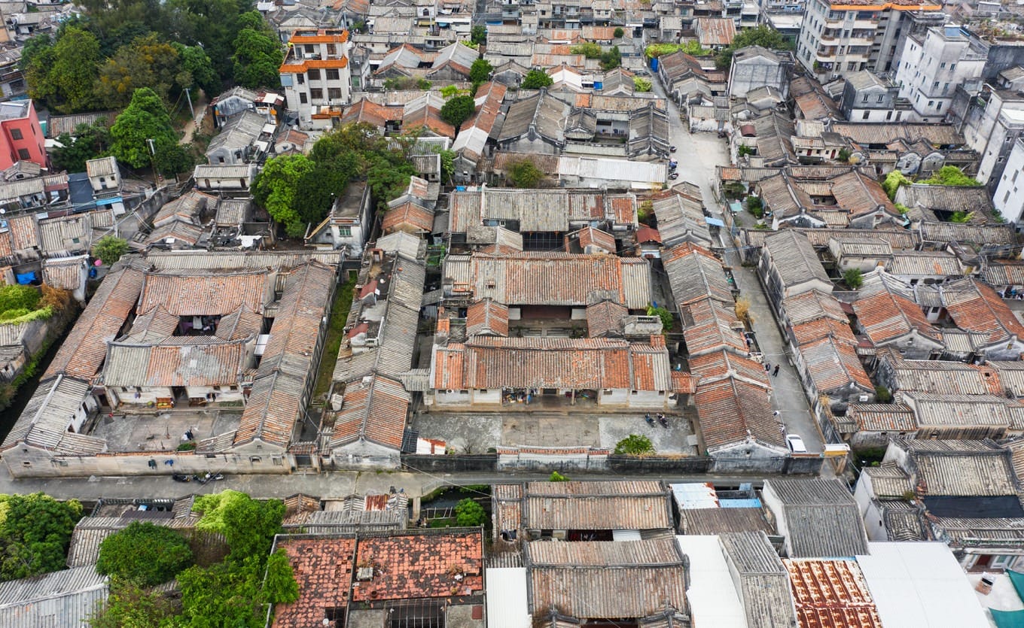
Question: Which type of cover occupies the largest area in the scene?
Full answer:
The largest share of the image is taken up by buildings.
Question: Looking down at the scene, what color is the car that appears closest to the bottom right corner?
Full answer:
The color of the car that appears closest to the bottom right corner is white.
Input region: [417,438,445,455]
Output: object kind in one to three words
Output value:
shed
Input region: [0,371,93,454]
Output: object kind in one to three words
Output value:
house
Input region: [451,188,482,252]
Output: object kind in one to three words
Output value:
building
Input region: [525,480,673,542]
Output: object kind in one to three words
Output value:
house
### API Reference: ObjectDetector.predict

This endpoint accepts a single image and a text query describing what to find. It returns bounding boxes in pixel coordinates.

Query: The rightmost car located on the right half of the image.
[785,430,811,455]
